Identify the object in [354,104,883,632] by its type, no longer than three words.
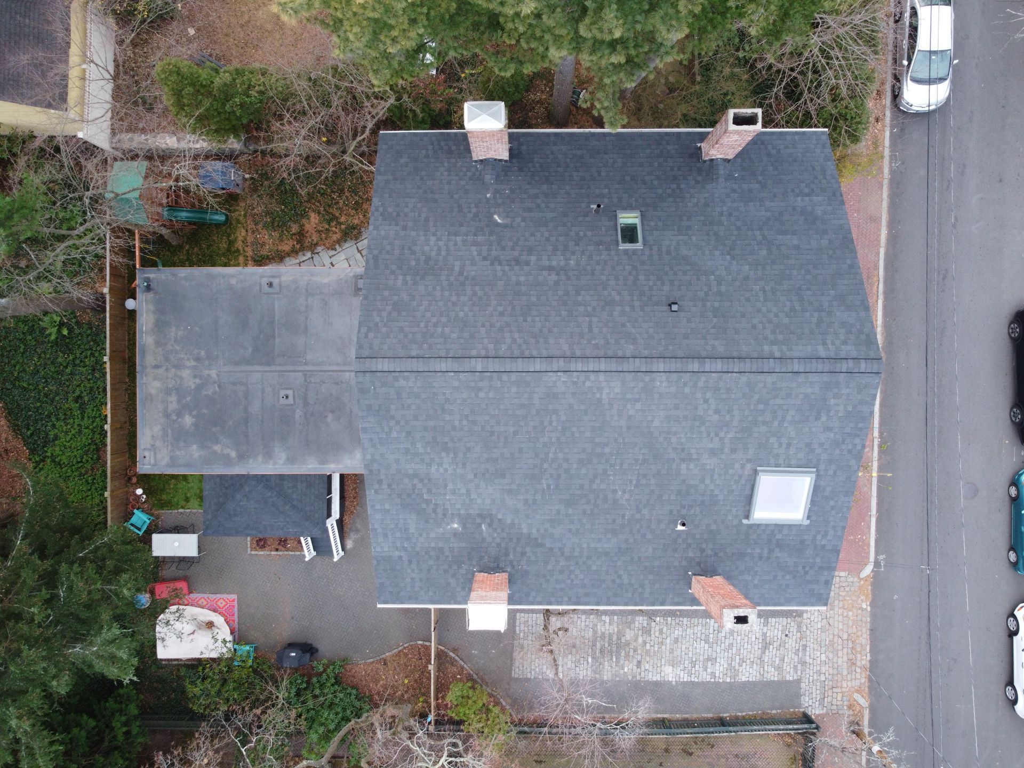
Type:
house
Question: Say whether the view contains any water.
No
